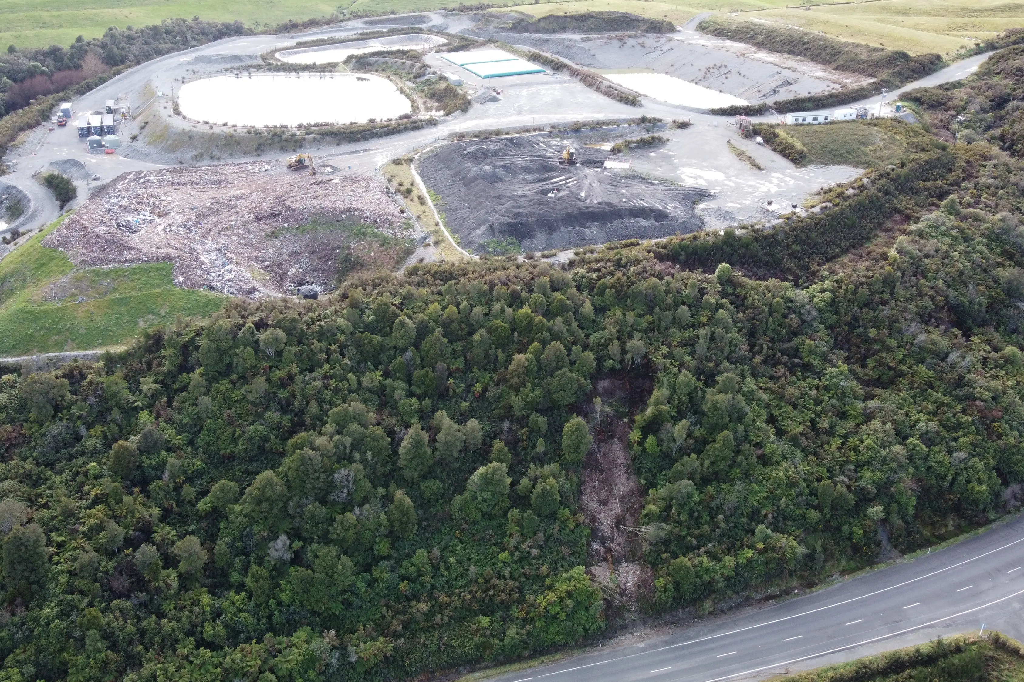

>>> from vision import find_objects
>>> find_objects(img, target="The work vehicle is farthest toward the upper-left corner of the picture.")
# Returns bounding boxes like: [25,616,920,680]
[54,110,68,127]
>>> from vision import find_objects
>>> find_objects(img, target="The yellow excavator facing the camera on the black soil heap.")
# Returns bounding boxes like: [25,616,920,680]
[557,143,579,168]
